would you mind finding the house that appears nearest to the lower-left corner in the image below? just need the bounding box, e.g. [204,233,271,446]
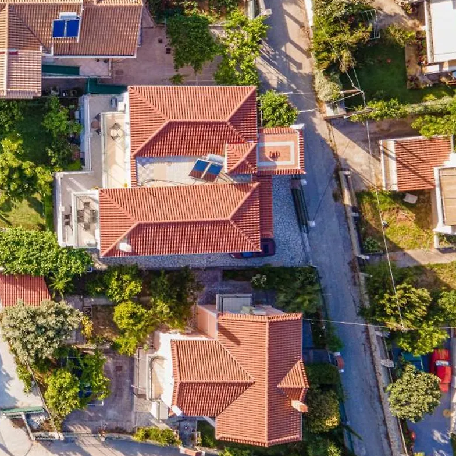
[139,289,310,447]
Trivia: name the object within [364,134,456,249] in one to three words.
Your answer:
house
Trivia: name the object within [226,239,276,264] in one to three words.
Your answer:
car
